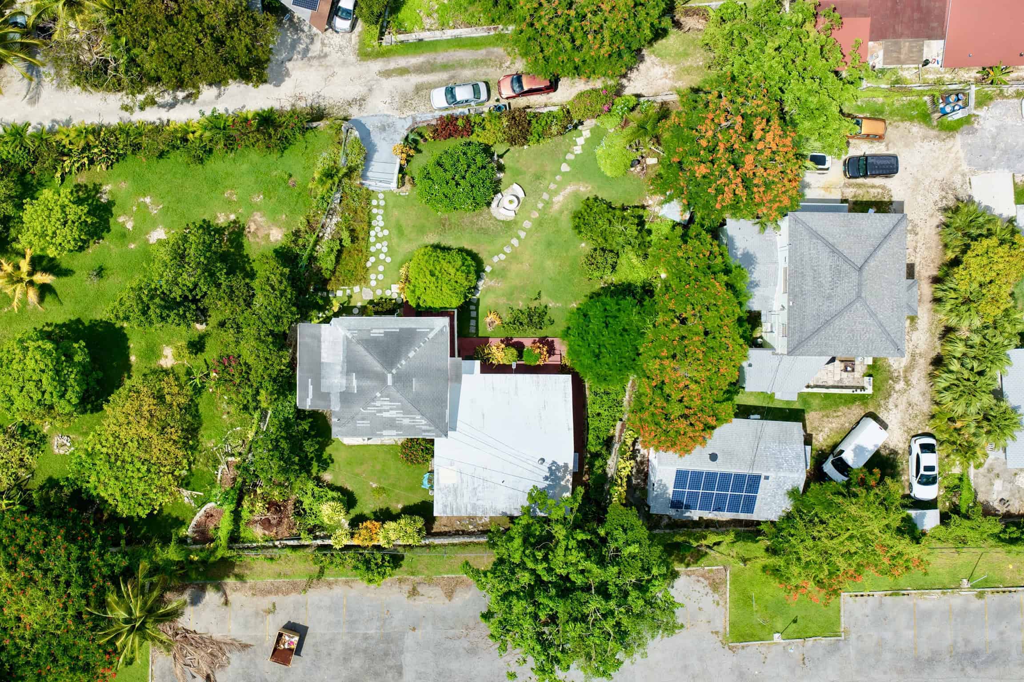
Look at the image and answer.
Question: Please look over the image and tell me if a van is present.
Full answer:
Yes, there's a van here.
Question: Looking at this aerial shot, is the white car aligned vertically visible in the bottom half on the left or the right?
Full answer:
You can find the white car aligned vertically visible in the bottom half on the right side of the picture.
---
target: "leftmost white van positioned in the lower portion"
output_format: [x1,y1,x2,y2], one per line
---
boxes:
[825,419,887,480]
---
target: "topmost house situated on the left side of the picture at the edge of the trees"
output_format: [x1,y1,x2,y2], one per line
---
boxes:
[283,0,334,37]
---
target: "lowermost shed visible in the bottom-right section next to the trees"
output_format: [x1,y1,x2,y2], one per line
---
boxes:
[902,507,940,532]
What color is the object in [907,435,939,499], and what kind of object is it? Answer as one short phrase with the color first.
white car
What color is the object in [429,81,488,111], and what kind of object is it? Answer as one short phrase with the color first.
white car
